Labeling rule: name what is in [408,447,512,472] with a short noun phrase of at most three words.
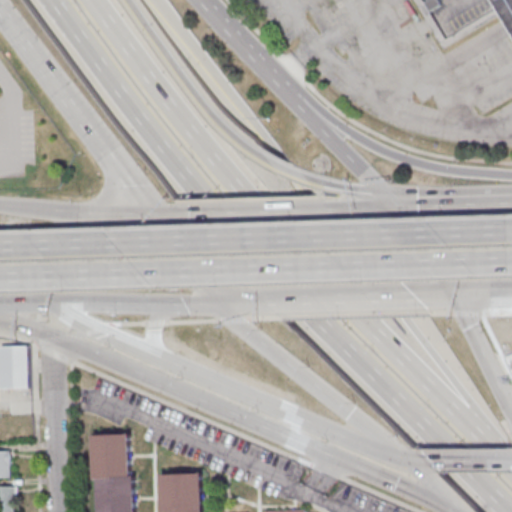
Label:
bridge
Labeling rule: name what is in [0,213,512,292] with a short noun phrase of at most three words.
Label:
overpass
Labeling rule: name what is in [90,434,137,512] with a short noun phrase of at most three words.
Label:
building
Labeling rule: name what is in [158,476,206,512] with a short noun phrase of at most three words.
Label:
building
